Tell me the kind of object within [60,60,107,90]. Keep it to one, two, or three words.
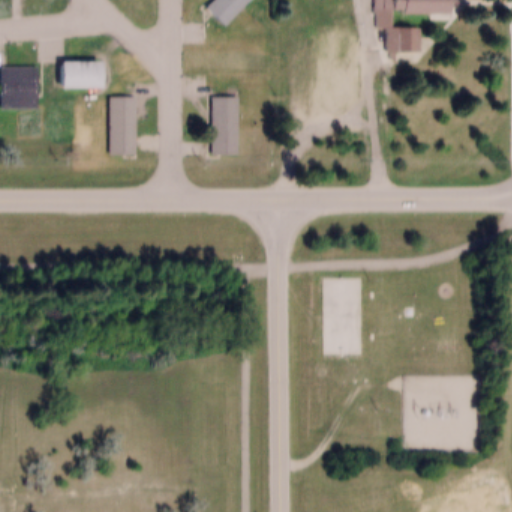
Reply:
house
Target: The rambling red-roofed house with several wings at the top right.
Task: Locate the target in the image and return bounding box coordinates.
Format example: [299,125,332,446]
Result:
[374,0,457,54]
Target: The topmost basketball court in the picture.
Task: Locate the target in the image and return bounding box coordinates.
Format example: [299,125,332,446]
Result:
[322,278,362,356]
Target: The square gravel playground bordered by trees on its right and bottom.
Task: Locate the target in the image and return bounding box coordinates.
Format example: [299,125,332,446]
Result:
[403,376,478,450]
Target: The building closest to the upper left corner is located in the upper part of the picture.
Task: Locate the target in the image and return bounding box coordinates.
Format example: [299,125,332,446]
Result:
[0,65,41,109]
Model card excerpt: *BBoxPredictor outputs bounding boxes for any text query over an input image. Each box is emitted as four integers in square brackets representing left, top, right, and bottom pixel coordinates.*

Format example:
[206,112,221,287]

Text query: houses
[0,65,41,109]
[60,60,107,90]
[209,0,250,26]
[374,0,457,54]
[210,96,239,155]
[109,96,136,156]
